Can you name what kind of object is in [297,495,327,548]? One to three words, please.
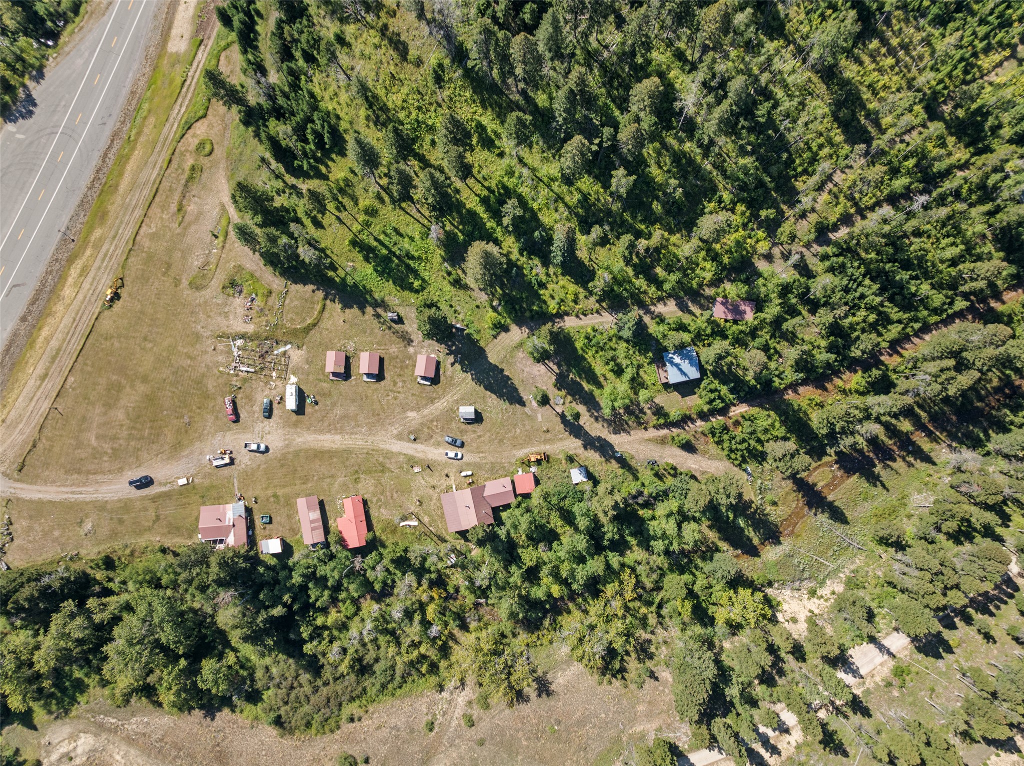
barn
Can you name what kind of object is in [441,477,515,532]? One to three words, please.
house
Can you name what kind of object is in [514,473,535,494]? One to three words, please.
shed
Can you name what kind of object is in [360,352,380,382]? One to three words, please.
building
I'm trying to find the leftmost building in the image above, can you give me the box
[199,503,250,548]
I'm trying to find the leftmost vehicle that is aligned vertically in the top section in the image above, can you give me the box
[102,278,116,308]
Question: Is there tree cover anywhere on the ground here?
Yes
